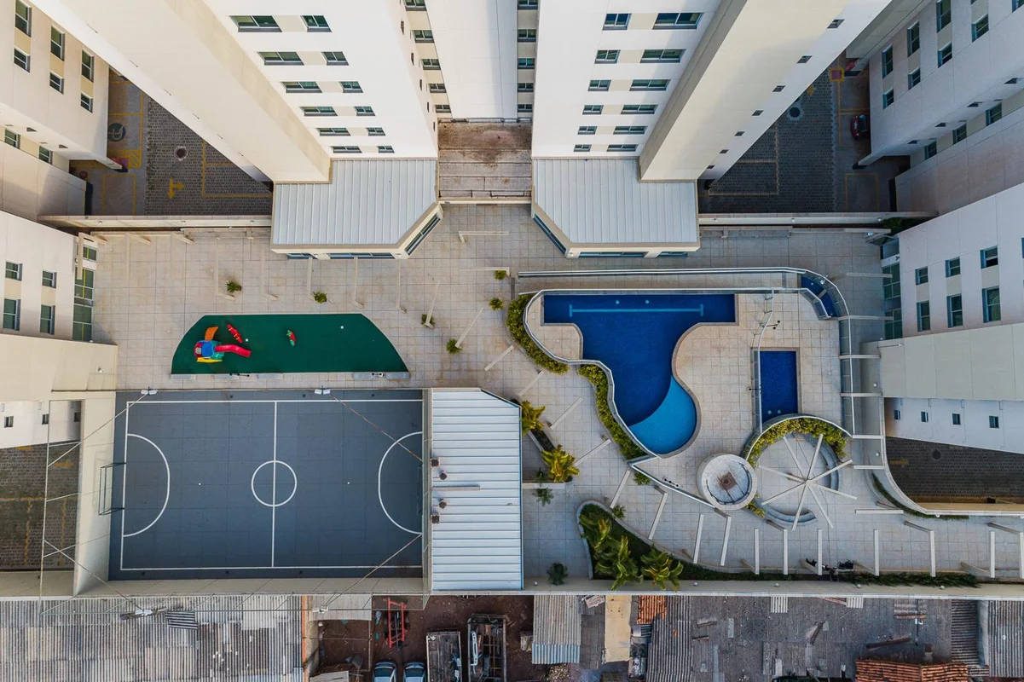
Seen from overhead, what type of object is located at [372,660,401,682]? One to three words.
car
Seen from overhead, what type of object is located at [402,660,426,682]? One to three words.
car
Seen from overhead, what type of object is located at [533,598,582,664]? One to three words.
shed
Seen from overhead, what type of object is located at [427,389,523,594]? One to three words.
building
